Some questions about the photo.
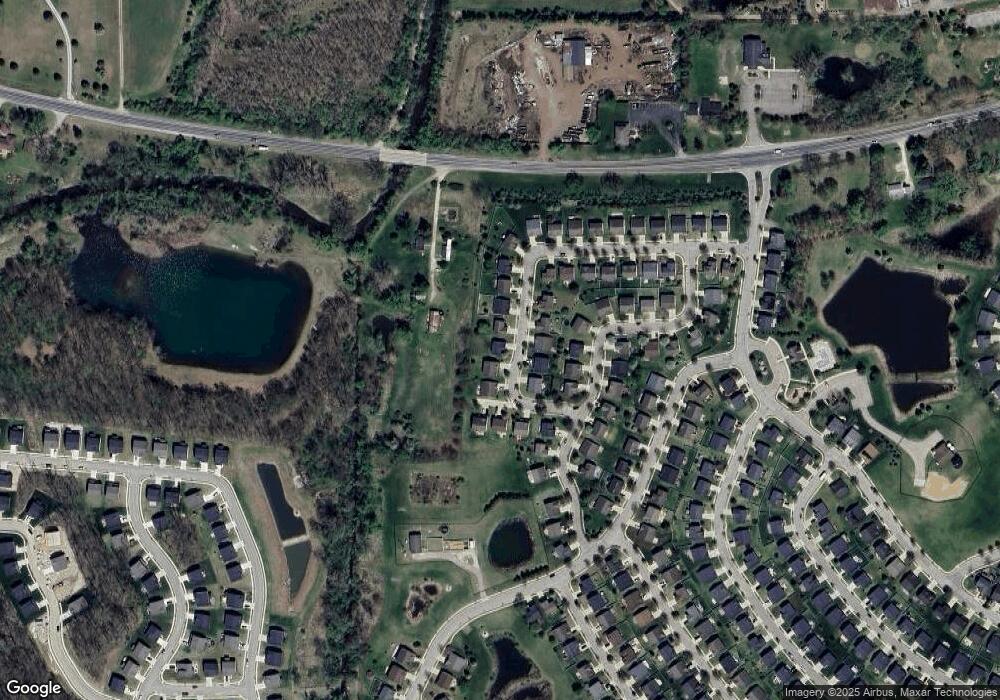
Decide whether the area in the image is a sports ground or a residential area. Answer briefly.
residential area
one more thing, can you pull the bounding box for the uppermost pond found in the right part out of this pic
[815,58,887,99]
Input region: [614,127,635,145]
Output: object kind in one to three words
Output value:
building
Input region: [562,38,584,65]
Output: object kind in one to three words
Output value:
building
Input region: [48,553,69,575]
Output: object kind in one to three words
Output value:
house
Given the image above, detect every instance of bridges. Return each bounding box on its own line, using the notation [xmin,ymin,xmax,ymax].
[380,145,428,169]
